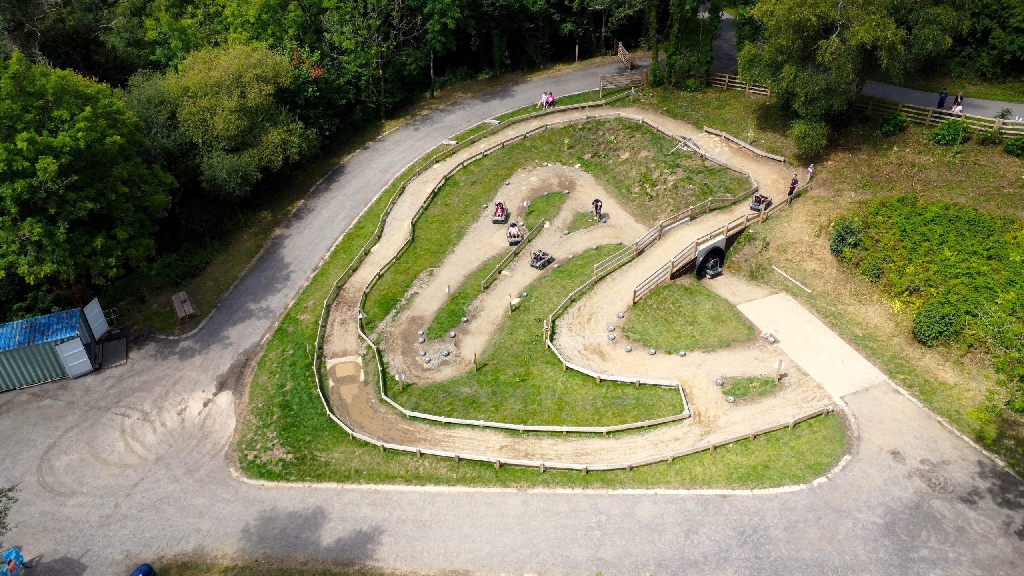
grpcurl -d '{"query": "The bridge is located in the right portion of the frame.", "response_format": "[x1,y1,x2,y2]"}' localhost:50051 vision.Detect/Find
[576,194,787,312]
